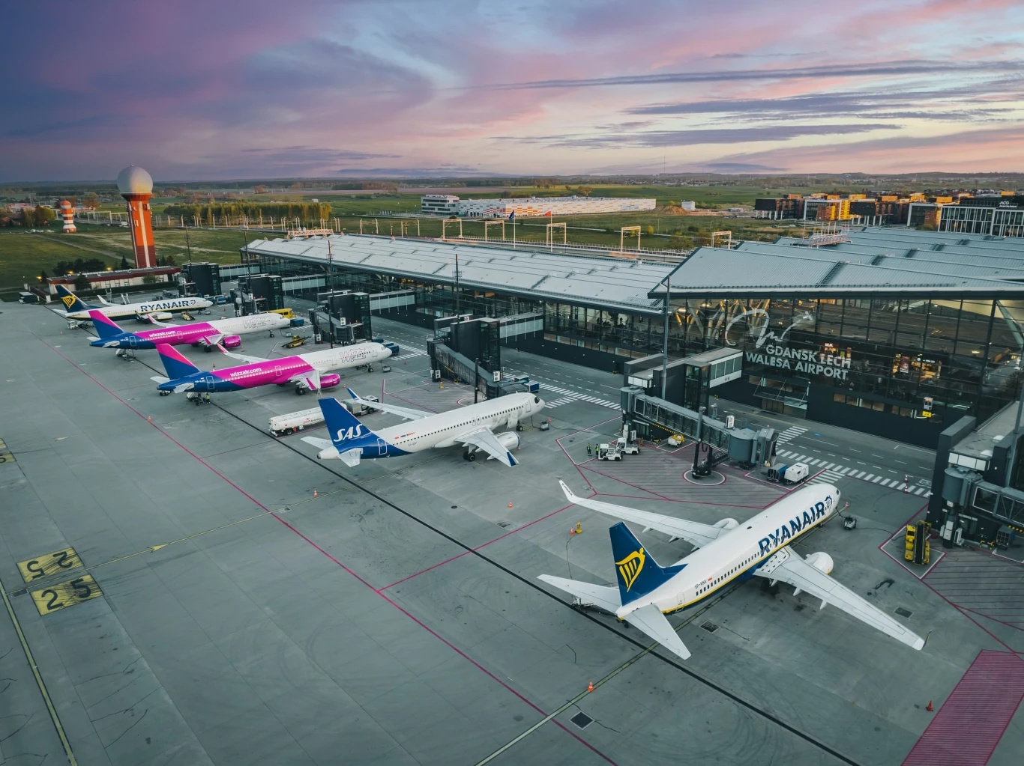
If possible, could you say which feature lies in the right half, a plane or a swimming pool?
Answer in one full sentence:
Looking in the right half, you will find a plane.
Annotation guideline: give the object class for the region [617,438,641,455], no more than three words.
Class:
work vehicle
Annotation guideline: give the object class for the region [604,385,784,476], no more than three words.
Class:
jet bridge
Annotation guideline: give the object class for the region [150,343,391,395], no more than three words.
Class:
airplane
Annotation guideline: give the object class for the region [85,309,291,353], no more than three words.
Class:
airplane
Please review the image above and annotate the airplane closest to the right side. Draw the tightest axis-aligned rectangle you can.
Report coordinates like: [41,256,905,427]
[532,482,938,664]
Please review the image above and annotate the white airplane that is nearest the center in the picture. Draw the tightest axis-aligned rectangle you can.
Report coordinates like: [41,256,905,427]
[301,393,544,470]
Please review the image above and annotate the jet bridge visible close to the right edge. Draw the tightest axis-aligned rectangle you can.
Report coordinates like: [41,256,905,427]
[940,467,1024,543]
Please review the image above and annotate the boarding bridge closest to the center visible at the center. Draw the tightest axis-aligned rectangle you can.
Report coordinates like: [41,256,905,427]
[415,340,508,402]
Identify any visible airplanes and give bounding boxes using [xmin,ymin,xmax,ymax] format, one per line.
[150,343,391,395]
[85,309,291,353]
[532,482,938,664]
[301,393,544,470]
[49,283,214,325]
